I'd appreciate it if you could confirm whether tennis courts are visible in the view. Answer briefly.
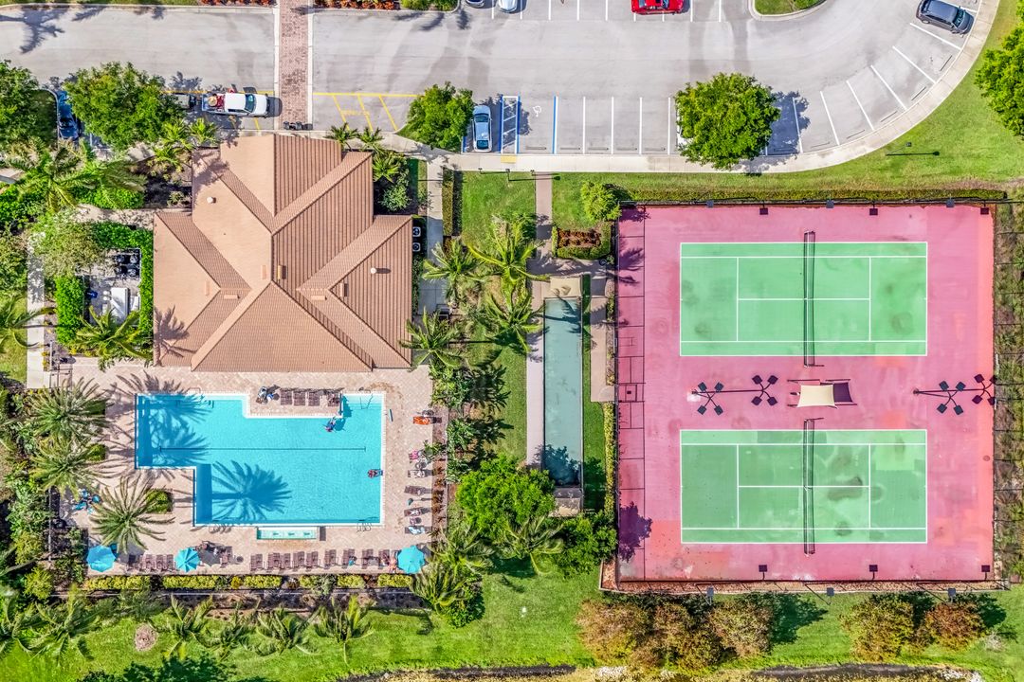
Yes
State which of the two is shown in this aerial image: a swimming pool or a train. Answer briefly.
swimming pool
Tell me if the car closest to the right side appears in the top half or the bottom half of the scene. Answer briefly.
top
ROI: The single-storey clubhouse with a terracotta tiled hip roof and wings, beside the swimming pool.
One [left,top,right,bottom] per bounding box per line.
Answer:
[153,133,413,371]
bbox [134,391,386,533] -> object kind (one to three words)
swimming pool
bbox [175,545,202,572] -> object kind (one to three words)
umbrella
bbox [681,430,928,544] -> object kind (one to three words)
tennis court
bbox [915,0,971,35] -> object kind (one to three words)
car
